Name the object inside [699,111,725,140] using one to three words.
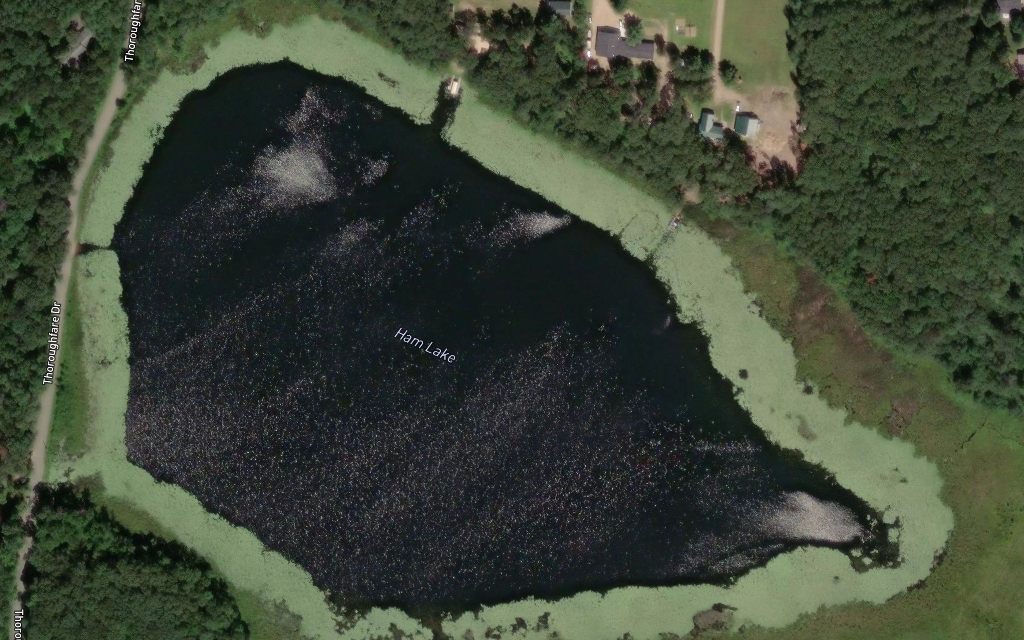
house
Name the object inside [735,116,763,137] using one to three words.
barn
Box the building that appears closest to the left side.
[68,30,94,62]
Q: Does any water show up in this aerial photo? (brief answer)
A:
Yes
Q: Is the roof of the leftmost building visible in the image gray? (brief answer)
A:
Yes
